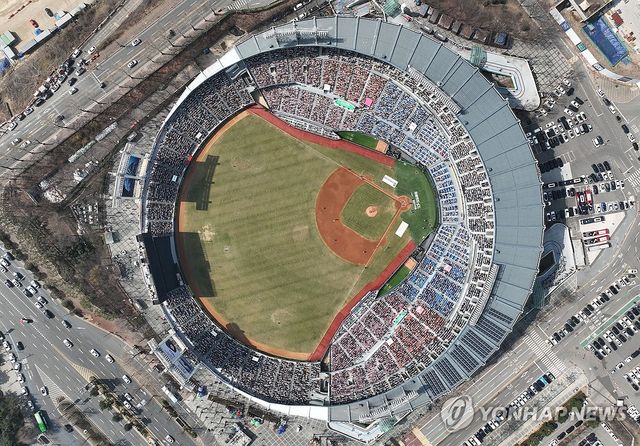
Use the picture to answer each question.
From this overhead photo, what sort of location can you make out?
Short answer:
sports ground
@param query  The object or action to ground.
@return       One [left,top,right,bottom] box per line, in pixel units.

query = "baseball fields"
[176,104,438,362]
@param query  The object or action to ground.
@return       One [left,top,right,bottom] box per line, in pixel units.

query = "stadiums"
[141,12,549,424]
